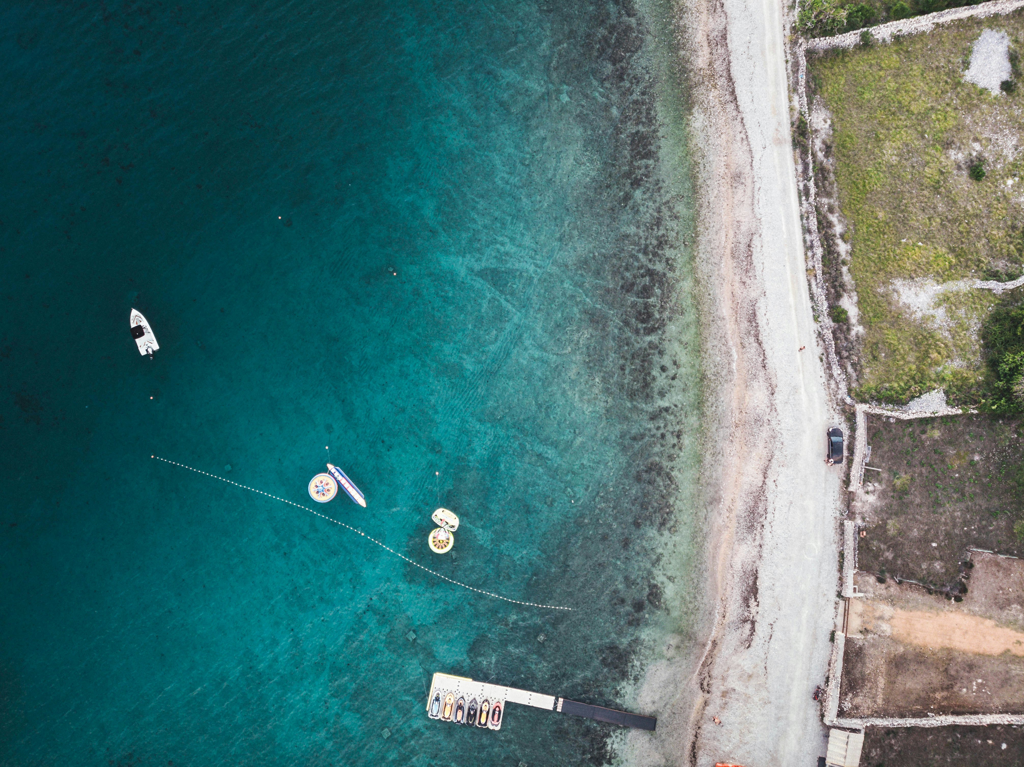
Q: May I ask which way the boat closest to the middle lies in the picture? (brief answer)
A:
diagonally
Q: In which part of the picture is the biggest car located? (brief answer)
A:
right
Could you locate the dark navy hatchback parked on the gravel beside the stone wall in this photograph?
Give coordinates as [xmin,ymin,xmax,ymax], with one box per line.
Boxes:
[826,427,846,464]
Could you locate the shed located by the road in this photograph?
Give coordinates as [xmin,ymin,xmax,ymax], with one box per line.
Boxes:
[815,720,864,767]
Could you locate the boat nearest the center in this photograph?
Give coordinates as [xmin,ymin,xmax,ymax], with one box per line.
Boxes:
[327,464,367,507]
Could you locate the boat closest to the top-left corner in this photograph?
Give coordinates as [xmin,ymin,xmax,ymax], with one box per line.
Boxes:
[129,308,160,359]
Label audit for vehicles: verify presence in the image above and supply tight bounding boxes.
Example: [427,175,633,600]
[826,427,846,464]
[812,684,822,703]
